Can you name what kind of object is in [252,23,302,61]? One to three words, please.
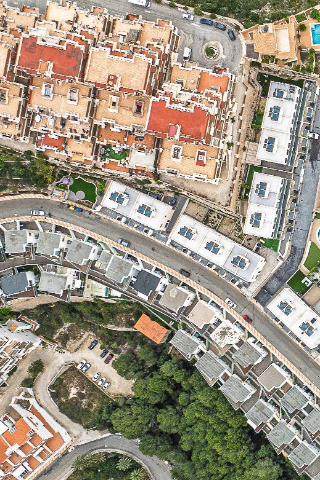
house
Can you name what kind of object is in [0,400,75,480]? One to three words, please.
building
